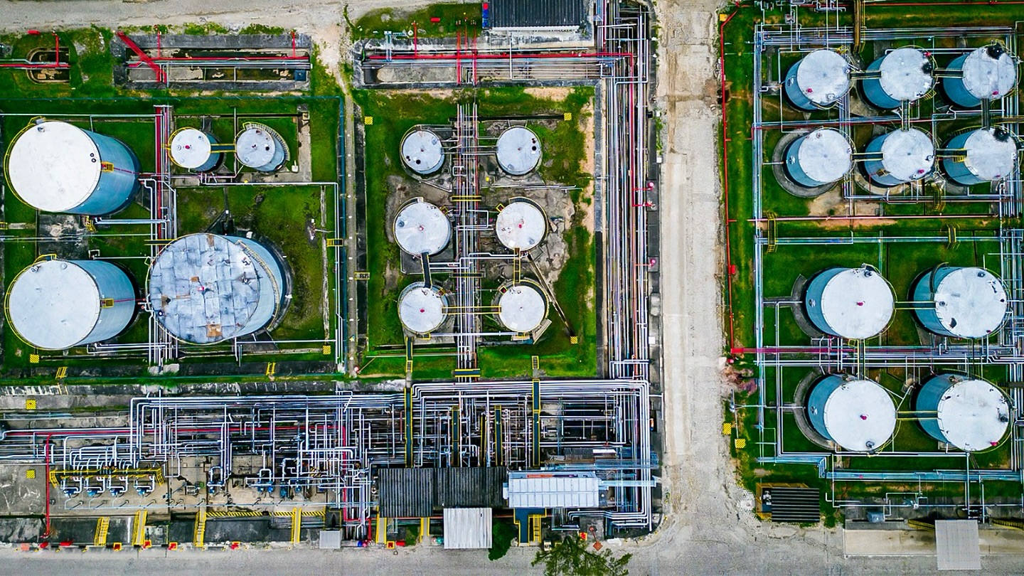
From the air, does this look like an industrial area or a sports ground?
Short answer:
industrial area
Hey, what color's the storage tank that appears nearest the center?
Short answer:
white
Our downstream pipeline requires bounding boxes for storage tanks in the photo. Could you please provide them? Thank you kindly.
[793,262,901,349]
[395,281,447,338]
[392,195,452,258]
[493,124,546,181]
[495,280,550,337]
[941,40,1024,110]
[0,255,143,356]
[913,372,1018,457]
[492,195,550,252]
[231,121,289,177]
[941,120,1024,195]
[852,123,942,197]
[398,127,448,179]
[142,229,293,347]
[795,372,905,457]
[0,116,144,223]
[783,50,856,113]
[856,41,941,119]
[164,124,227,176]
[773,123,859,200]
[907,264,1016,345]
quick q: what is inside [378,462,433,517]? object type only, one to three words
shed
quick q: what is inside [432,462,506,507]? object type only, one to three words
shed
